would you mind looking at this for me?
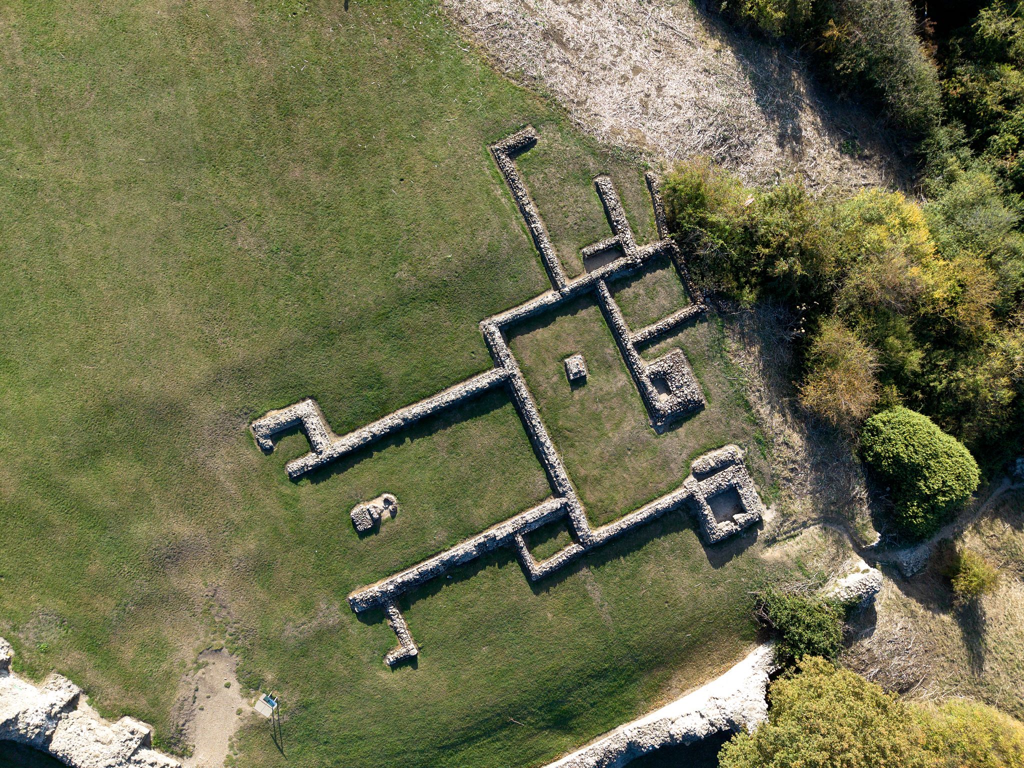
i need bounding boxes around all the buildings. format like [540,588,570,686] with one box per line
[252,127,763,665]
